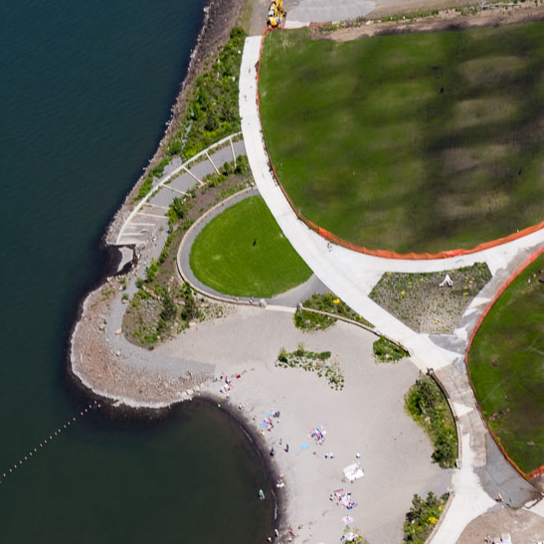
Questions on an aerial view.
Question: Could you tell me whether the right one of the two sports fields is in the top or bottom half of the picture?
bottom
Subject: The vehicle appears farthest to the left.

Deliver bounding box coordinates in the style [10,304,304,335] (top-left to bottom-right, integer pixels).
[267,0,289,26]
